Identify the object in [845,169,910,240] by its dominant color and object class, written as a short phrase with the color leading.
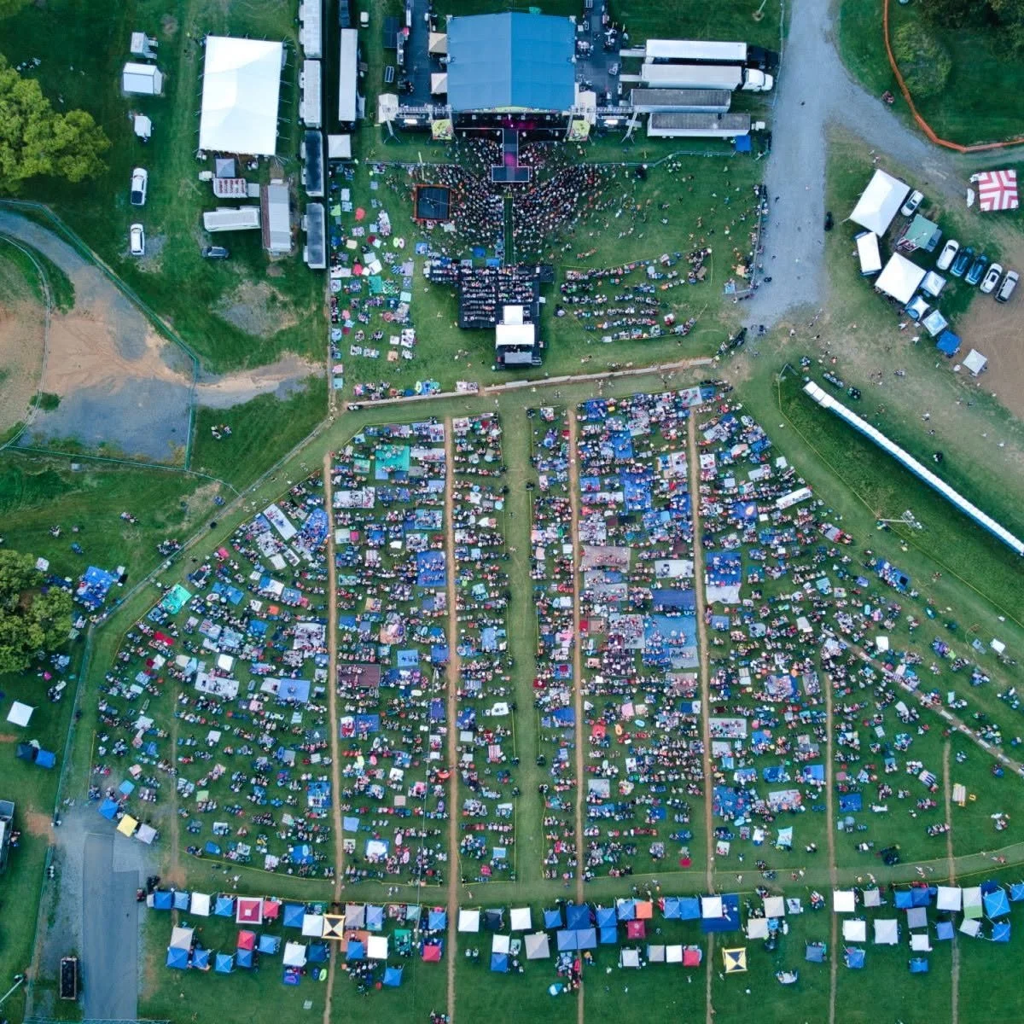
white tent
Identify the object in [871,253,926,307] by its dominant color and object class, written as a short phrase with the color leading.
white tent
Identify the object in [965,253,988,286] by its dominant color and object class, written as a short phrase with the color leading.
blue car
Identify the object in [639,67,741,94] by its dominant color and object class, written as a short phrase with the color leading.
white trailer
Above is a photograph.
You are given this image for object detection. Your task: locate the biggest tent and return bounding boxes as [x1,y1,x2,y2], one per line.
[193,35,297,171]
